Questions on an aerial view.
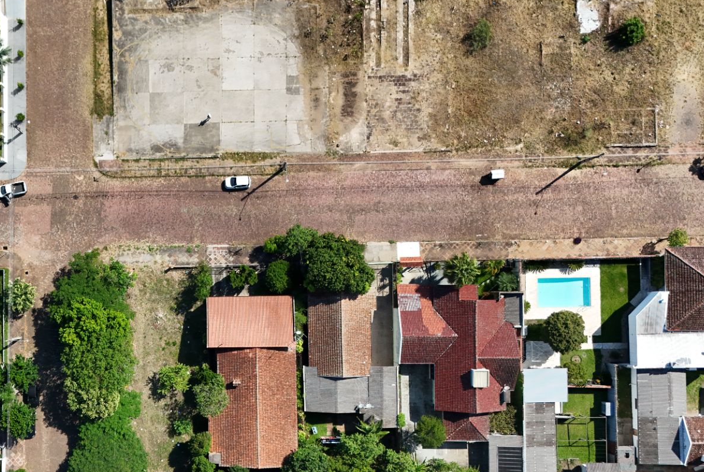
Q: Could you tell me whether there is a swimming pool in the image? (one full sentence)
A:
Yes, there is a swimming pool in the image.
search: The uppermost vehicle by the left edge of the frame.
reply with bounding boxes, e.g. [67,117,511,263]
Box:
[0,181,29,204]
